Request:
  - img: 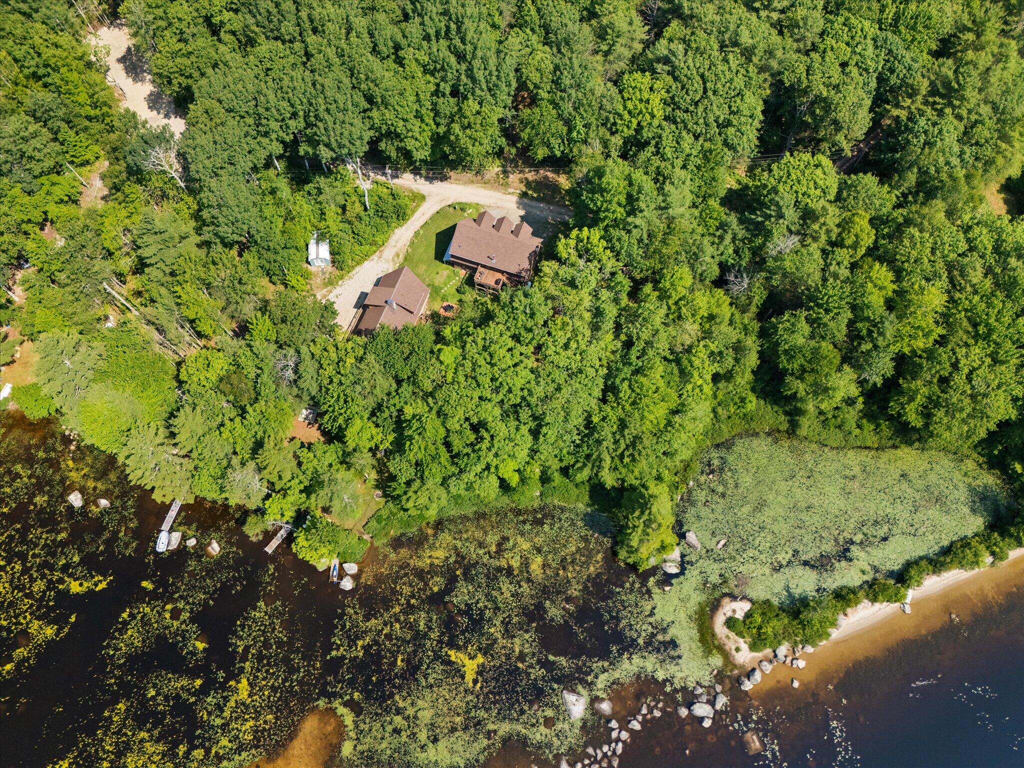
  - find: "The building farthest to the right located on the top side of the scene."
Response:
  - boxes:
[443,211,543,295]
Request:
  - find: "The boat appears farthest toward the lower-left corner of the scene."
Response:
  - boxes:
[154,529,168,554]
